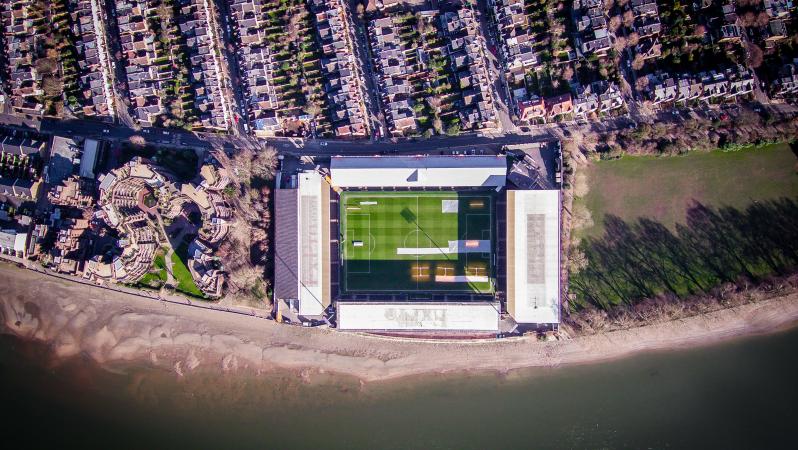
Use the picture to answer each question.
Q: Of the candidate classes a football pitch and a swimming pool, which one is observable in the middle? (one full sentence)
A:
There is a football pitch in the middle.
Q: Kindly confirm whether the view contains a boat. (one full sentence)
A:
No, I can't see a single boat in this photo.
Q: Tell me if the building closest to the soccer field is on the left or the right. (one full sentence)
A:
You can find the building closest to the soccer field on the right side of the picture.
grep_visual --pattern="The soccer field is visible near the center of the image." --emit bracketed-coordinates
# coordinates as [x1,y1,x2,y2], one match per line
[341,190,500,296]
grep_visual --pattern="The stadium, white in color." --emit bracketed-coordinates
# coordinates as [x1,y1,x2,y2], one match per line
[275,155,561,330]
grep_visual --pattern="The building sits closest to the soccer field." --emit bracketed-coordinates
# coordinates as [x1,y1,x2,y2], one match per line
[507,161,541,190]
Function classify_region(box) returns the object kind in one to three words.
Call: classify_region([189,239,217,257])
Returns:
building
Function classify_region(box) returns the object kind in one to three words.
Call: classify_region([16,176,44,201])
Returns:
house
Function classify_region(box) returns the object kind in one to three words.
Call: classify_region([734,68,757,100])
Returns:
house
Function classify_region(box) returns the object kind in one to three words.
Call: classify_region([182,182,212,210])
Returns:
building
